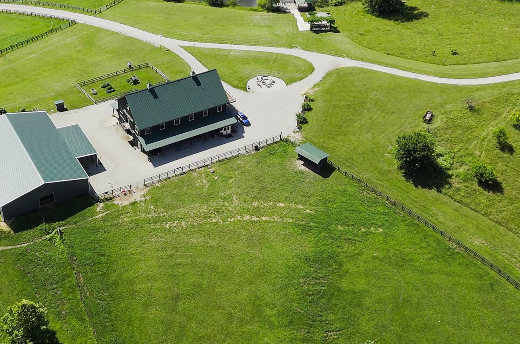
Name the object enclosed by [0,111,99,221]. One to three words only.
barn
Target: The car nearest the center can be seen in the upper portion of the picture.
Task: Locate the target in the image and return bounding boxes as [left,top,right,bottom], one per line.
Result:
[233,108,254,125]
